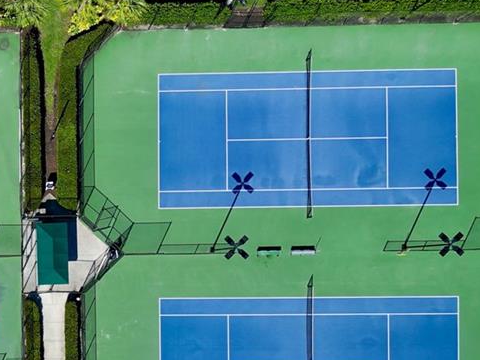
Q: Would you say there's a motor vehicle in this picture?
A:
No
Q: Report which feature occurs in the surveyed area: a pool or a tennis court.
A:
tennis court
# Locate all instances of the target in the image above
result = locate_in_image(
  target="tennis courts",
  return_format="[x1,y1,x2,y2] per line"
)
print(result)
[159,296,459,360]
[158,68,458,209]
